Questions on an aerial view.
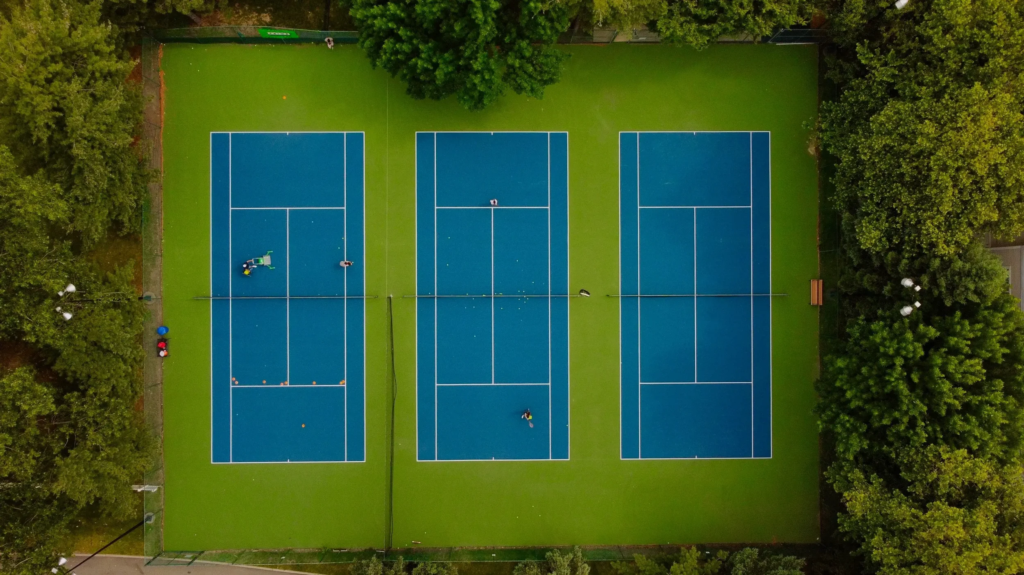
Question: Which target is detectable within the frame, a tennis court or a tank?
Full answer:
The image shows a tennis court.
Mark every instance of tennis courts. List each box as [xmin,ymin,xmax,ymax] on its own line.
[620,132,771,458]
[417,133,568,460]
[212,133,365,462]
